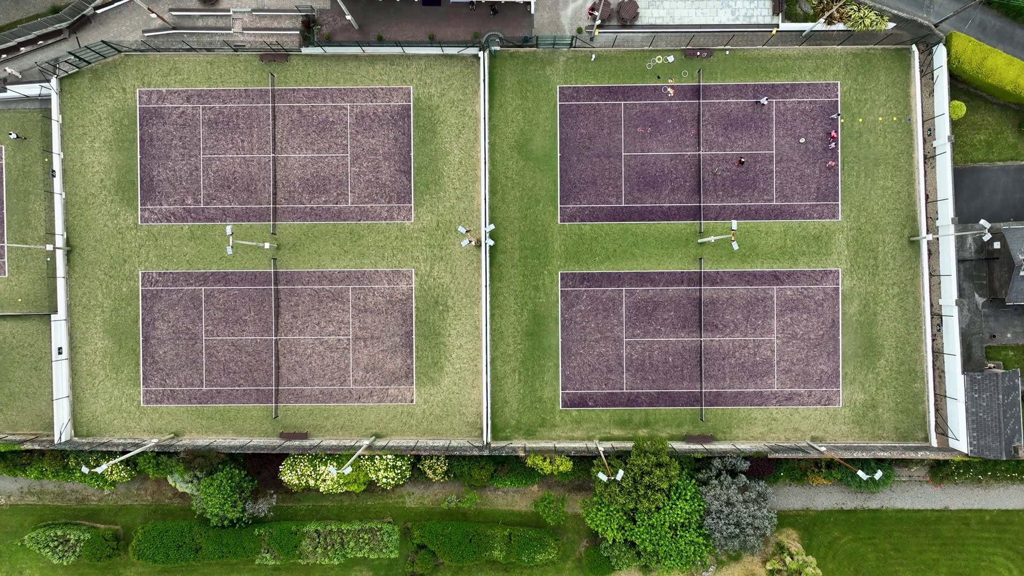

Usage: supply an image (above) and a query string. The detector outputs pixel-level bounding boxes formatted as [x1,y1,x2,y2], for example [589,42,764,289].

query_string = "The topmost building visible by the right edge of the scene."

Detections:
[980,225,1024,305]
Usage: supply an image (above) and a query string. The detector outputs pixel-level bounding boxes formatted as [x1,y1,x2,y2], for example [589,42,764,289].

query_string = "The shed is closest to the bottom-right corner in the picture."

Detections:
[955,367,1024,461]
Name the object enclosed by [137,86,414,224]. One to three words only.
tennis court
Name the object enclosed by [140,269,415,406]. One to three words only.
tennis court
